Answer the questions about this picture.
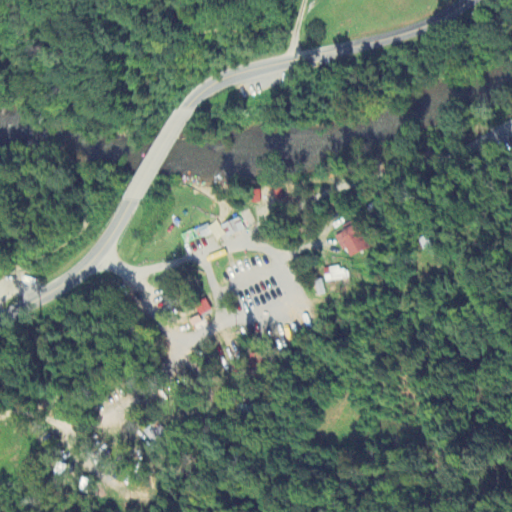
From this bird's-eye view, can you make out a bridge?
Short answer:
Yes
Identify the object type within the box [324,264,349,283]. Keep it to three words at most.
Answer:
house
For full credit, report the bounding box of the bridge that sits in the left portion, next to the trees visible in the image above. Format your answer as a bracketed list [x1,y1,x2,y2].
[124,105,192,198]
